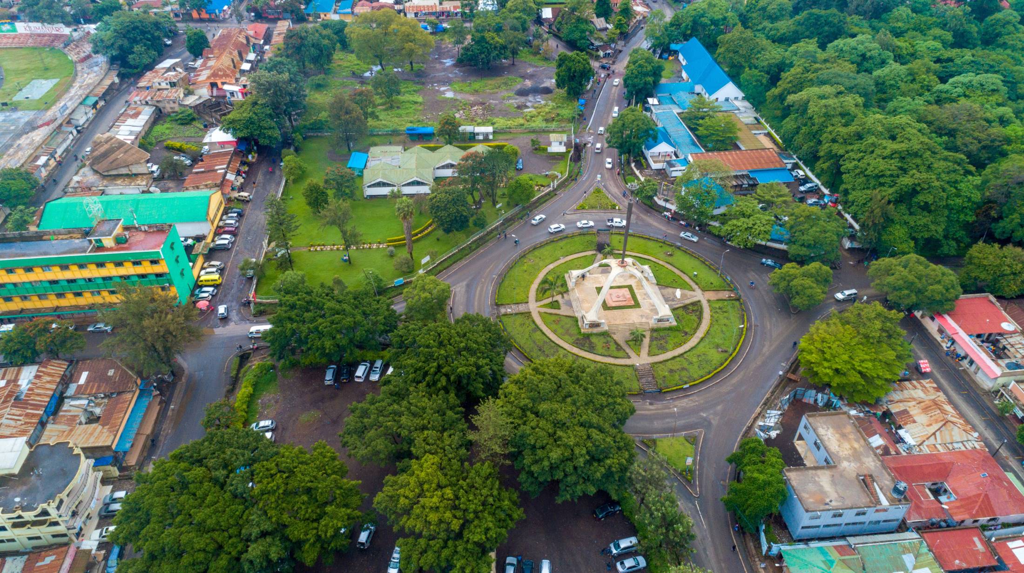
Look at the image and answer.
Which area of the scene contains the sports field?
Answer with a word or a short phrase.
top left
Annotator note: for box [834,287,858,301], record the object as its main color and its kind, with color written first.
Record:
white car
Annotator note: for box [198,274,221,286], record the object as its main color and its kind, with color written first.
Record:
yellow vehicle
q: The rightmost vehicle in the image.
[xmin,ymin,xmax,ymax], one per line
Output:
[913,358,935,375]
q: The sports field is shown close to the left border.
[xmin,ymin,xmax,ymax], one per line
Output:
[0,45,74,110]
